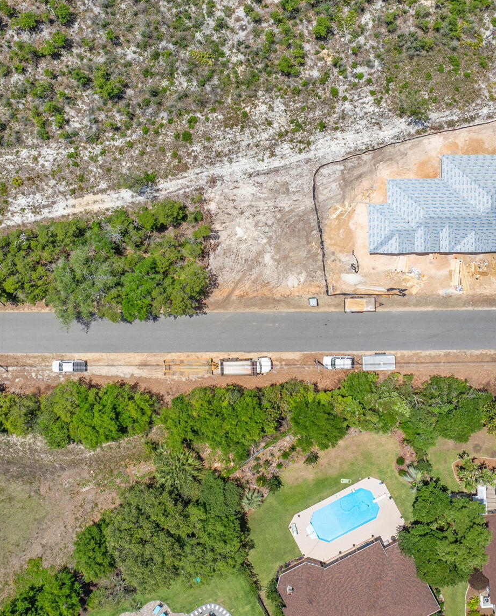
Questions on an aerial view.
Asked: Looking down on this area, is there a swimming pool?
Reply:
Yes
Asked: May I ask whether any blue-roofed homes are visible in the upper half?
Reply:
No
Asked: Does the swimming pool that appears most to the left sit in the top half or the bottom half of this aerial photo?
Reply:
bottom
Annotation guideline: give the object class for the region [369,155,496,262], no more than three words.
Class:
house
